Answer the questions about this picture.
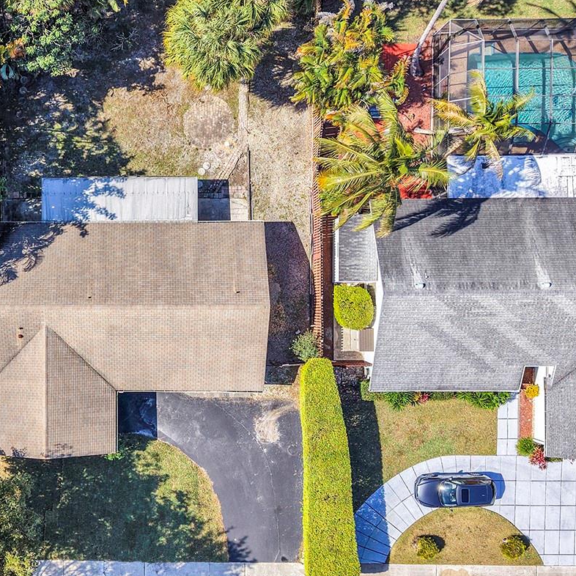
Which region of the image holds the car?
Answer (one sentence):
The car appears toward the bottom right of the photo.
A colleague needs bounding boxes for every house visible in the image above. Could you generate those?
[0,221,269,458]
[369,155,576,462]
